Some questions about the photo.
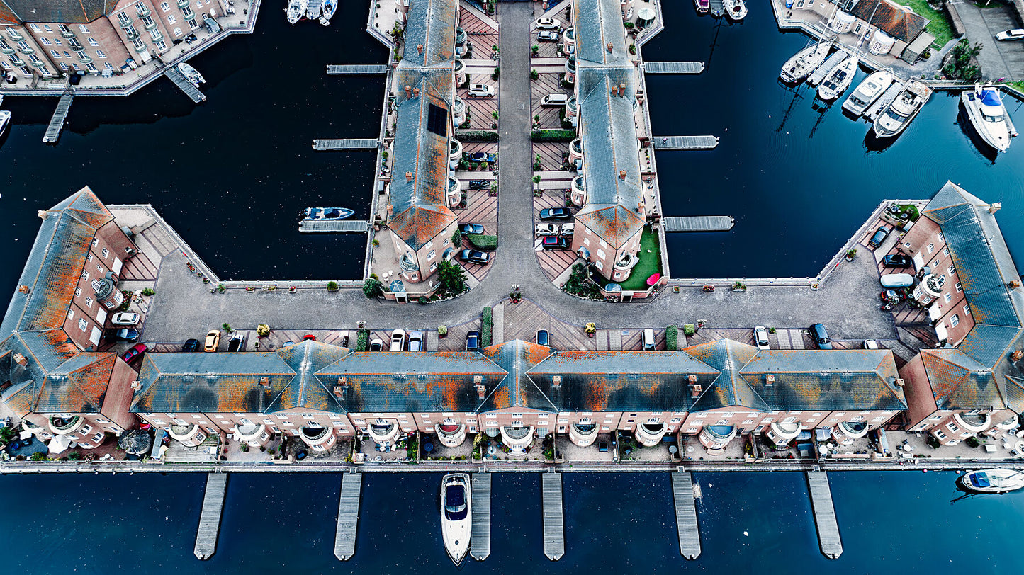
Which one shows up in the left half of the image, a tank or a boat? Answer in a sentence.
What appears in the left half of the image is a boat.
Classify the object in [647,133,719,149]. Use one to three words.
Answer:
pier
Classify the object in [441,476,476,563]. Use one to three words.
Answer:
boat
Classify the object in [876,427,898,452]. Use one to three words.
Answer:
shed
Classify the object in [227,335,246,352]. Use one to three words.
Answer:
car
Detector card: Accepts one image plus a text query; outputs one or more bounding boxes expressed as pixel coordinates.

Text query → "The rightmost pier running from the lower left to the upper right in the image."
[864,72,912,121]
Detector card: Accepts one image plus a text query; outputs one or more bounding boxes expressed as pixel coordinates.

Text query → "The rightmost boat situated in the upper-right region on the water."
[960,84,1010,149]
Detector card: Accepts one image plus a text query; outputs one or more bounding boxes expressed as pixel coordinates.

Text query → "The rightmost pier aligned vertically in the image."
[806,459,842,559]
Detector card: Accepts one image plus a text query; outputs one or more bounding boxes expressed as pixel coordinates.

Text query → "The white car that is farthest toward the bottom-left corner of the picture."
[110,311,145,326]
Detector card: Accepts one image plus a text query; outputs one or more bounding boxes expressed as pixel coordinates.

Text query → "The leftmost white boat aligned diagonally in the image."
[179,65,207,89]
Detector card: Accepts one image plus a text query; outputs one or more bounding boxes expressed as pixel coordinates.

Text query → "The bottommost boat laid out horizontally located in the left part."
[303,209,355,222]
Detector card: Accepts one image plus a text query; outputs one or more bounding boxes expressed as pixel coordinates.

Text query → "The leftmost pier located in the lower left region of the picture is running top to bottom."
[196,461,228,560]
